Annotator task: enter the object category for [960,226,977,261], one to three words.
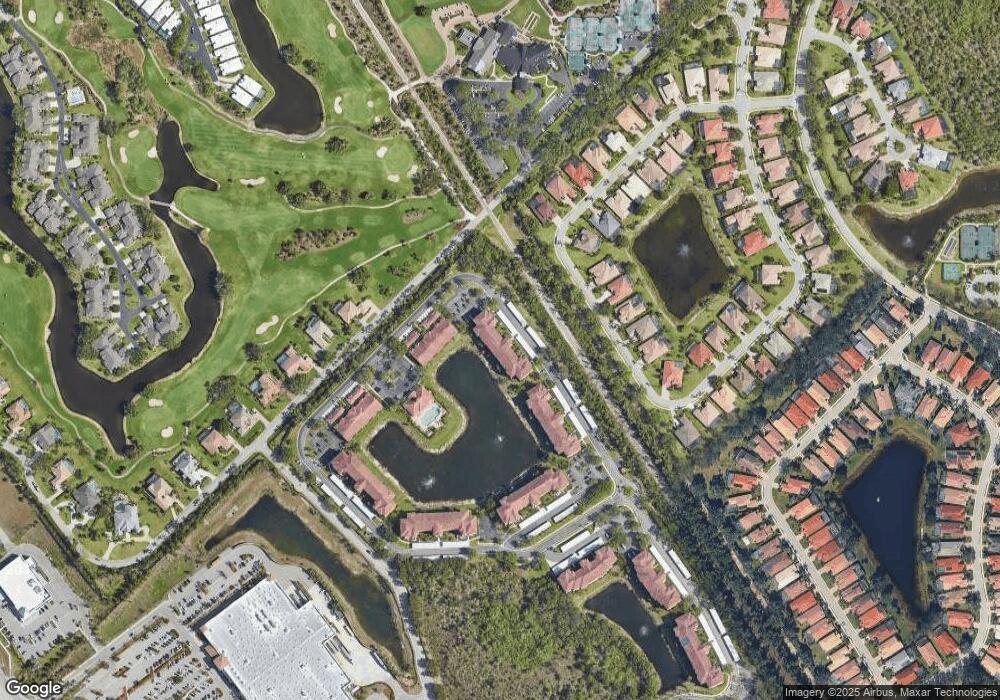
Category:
tennis court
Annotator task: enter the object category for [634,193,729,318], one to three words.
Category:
pond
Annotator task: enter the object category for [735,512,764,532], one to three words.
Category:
house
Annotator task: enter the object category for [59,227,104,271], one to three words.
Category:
building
